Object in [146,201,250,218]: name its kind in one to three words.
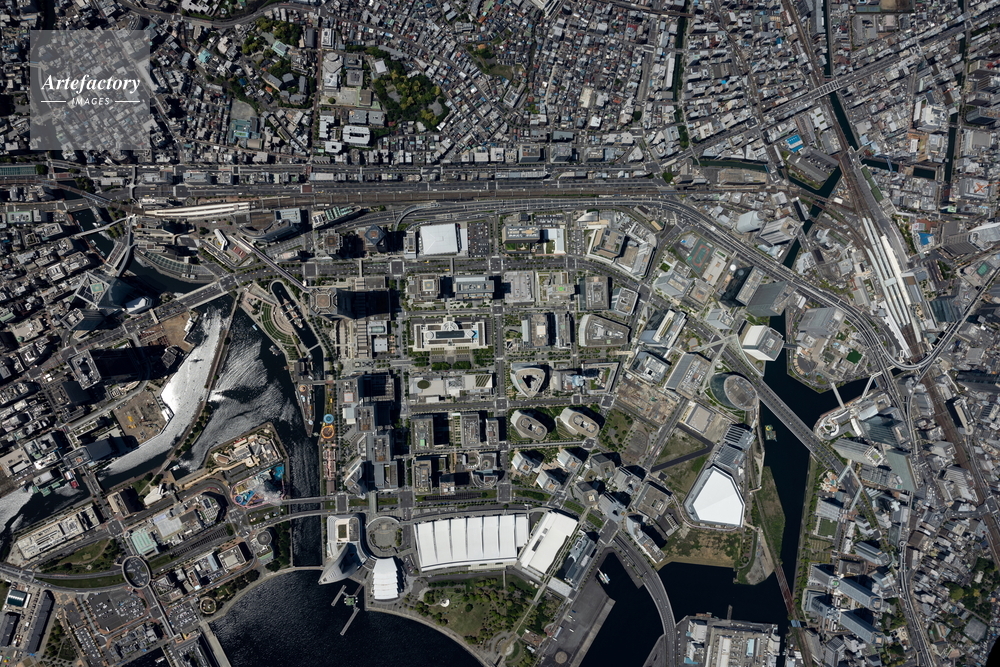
train station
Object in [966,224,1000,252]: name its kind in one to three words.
building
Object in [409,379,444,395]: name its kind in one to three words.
building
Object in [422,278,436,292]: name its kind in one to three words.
helipad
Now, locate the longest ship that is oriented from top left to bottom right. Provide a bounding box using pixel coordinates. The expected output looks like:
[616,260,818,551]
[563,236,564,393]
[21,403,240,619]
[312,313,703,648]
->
[281,297,304,330]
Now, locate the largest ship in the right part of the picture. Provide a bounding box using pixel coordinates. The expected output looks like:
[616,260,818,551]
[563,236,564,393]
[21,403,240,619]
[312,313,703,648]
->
[765,425,777,441]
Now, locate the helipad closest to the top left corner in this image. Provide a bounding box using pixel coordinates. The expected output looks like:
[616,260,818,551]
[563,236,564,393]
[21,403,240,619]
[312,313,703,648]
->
[90,280,104,295]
